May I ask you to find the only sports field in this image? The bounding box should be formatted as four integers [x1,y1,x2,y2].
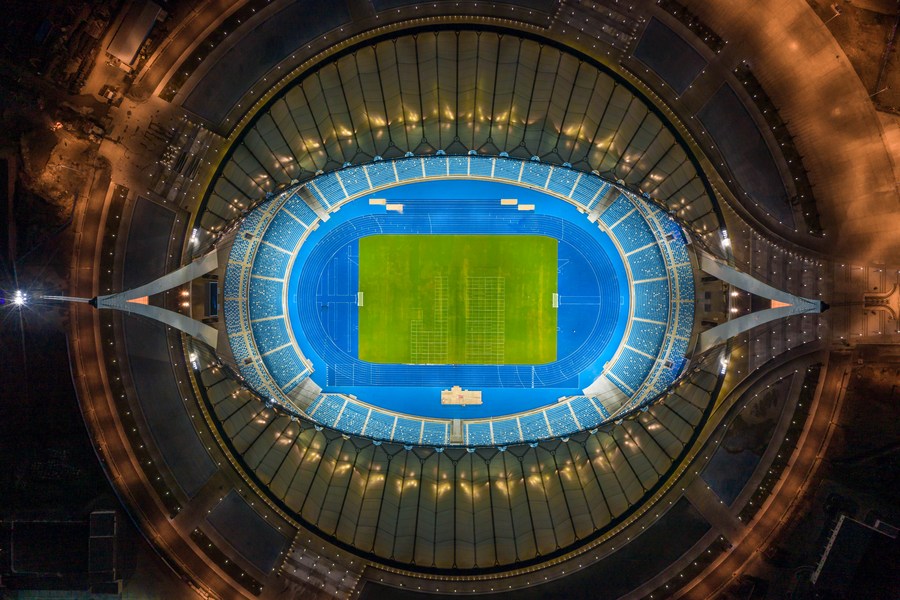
[359,235,556,364]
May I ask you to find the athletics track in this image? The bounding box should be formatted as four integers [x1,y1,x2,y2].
[289,181,627,416]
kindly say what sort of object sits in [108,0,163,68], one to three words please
building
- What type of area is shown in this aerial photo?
sports ground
